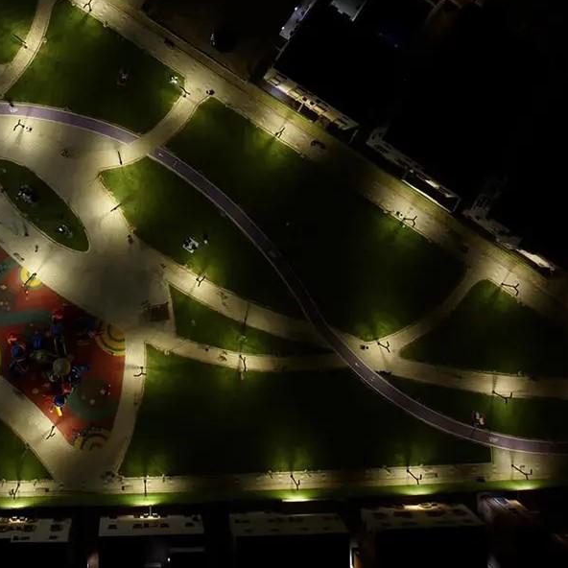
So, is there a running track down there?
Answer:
Yes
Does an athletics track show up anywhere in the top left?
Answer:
Yes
